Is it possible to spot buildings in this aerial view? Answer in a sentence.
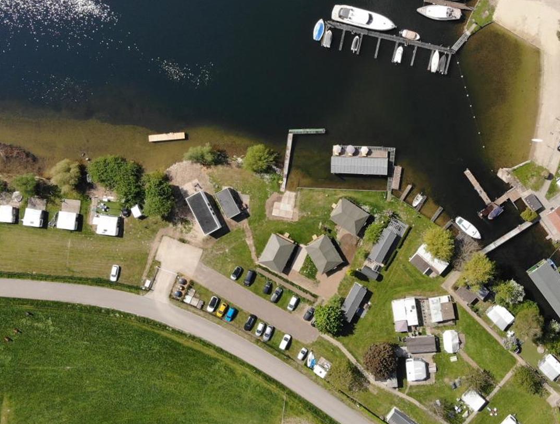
Yes, there is a building in the image.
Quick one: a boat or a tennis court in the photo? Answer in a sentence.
The one in the frame is a boat.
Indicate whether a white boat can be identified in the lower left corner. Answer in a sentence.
No, the scene shows no white boat in the lower left corner.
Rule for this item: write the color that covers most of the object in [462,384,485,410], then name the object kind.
white tent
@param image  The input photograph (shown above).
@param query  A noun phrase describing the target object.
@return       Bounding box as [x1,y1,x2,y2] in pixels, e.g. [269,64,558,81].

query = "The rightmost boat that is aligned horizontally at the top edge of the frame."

[413,4,464,23]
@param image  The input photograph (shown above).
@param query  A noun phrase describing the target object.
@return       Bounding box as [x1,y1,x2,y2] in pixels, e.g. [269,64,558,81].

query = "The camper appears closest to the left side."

[0,206,21,225]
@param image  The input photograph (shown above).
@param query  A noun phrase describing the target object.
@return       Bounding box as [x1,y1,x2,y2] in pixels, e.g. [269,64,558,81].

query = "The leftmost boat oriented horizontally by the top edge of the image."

[327,3,400,33]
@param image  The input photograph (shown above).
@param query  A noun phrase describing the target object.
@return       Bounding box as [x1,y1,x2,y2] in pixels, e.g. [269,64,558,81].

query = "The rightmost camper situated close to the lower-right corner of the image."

[536,351,560,381]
